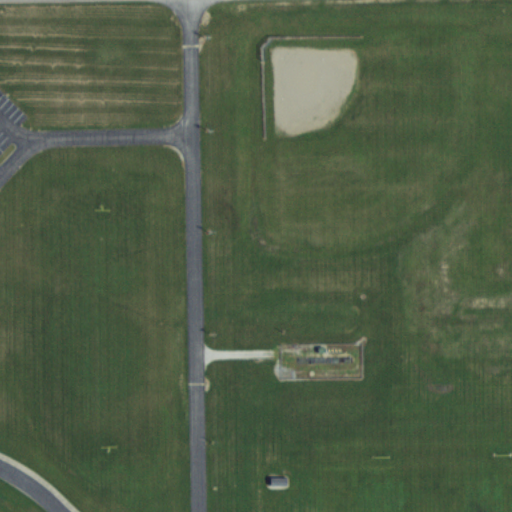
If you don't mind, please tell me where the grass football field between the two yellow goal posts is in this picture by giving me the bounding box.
[50,211,162,447]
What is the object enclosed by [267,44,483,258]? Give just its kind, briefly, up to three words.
baseball field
